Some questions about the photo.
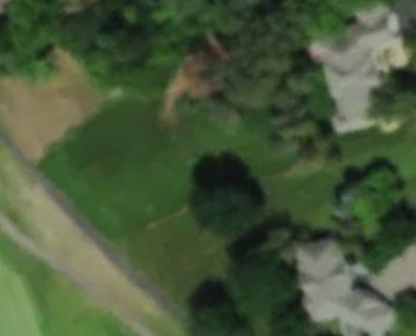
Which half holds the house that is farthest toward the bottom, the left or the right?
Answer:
right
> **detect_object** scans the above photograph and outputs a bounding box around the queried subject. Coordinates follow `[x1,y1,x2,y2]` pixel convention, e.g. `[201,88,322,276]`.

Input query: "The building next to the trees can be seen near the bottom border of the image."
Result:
[294,227,401,336]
